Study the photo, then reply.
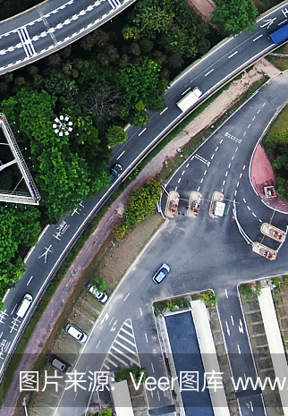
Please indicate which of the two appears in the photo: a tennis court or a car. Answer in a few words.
car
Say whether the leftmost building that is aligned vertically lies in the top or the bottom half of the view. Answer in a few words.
bottom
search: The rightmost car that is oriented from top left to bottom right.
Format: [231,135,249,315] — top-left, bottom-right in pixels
[88,283,107,301]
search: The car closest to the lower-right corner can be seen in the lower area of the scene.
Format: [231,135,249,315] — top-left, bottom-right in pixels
[154,263,168,282]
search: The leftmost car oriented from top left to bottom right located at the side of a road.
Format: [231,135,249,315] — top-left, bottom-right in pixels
[49,353,70,371]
